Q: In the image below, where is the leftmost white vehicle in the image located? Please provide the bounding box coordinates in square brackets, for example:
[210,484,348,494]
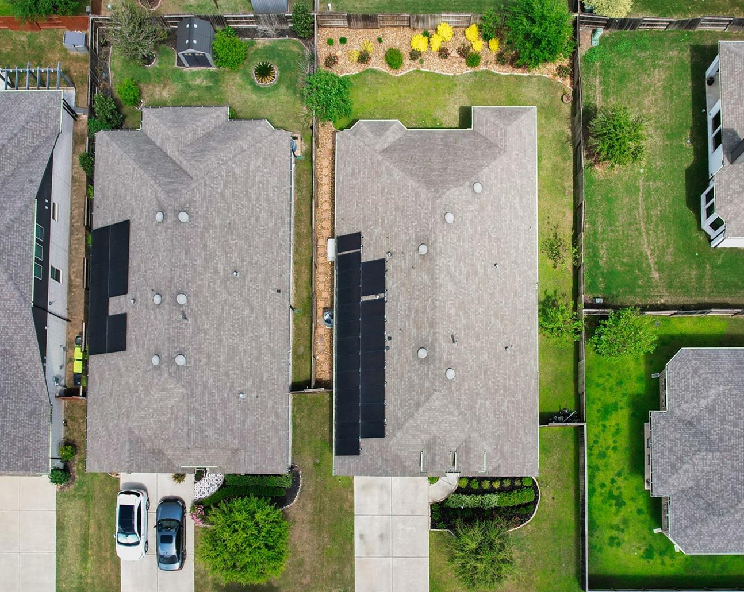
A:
[113,490,149,561]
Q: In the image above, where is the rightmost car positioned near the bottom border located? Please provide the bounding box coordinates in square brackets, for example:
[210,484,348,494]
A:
[152,500,186,571]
